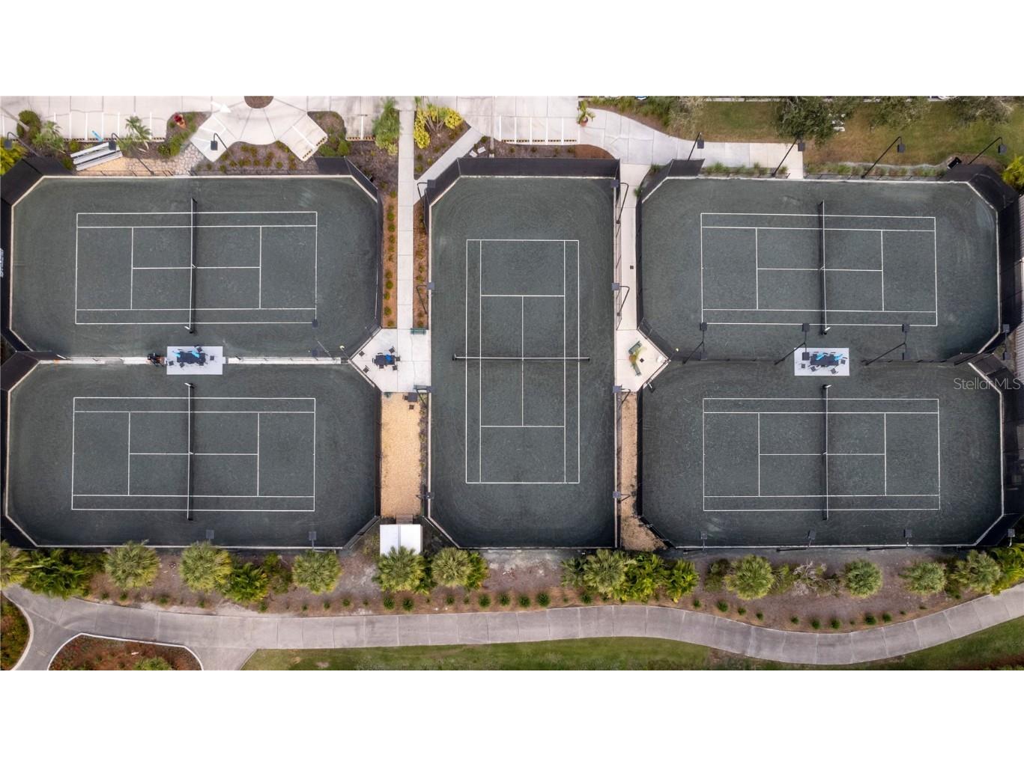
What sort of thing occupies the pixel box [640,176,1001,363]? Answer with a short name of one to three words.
tennis court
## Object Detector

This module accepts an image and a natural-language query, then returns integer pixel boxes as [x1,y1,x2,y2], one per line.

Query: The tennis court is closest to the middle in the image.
[427,175,618,550]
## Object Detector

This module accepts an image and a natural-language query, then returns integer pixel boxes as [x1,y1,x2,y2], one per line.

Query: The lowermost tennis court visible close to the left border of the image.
[4,361,378,550]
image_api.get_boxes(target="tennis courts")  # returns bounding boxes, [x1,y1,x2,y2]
[4,361,378,550]
[640,176,1001,363]
[9,174,380,359]
[643,362,1006,549]
[427,175,618,550]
